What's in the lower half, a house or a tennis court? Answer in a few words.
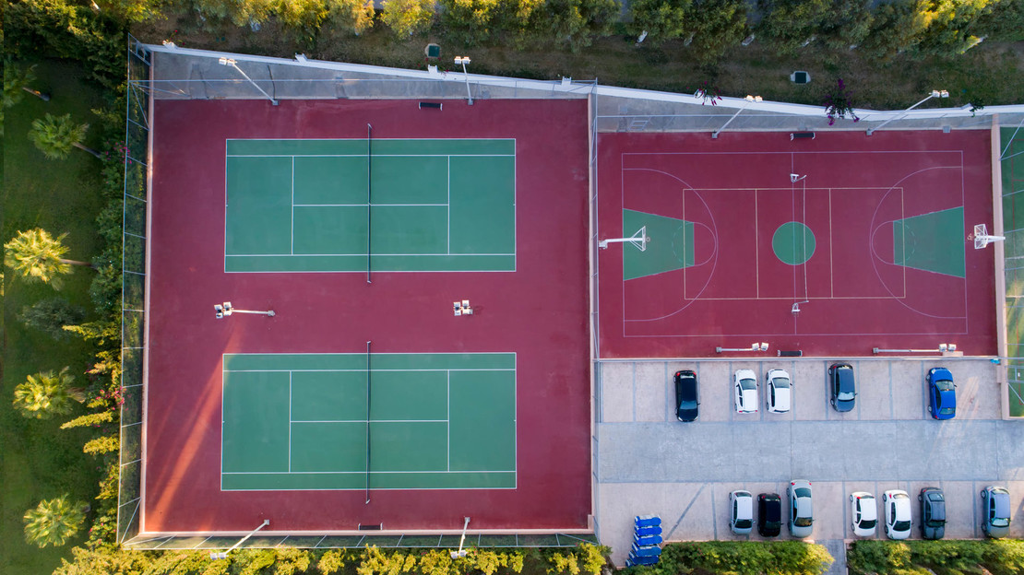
tennis court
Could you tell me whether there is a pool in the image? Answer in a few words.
No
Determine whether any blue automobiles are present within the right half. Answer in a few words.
Yes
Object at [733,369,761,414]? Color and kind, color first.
white car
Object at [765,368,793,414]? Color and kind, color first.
white car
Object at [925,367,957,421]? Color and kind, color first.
blue car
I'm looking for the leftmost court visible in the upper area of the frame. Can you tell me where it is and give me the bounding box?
[225,139,516,272]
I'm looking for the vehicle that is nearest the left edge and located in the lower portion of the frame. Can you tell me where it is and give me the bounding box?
[674,371,701,422]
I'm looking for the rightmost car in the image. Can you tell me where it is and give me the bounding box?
[979,485,1013,539]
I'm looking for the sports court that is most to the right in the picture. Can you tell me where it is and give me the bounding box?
[1002,127,1024,418]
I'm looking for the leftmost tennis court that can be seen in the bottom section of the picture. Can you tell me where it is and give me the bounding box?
[221,352,517,491]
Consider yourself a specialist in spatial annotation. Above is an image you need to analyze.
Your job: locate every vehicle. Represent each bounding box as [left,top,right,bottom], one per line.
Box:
[674,371,701,422]
[849,491,880,537]
[979,485,1013,539]
[881,489,914,540]
[756,492,785,537]
[733,369,761,414]
[916,486,949,540]
[925,367,957,421]
[765,368,793,414]
[827,363,858,412]
[728,489,756,537]
[786,479,816,538]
